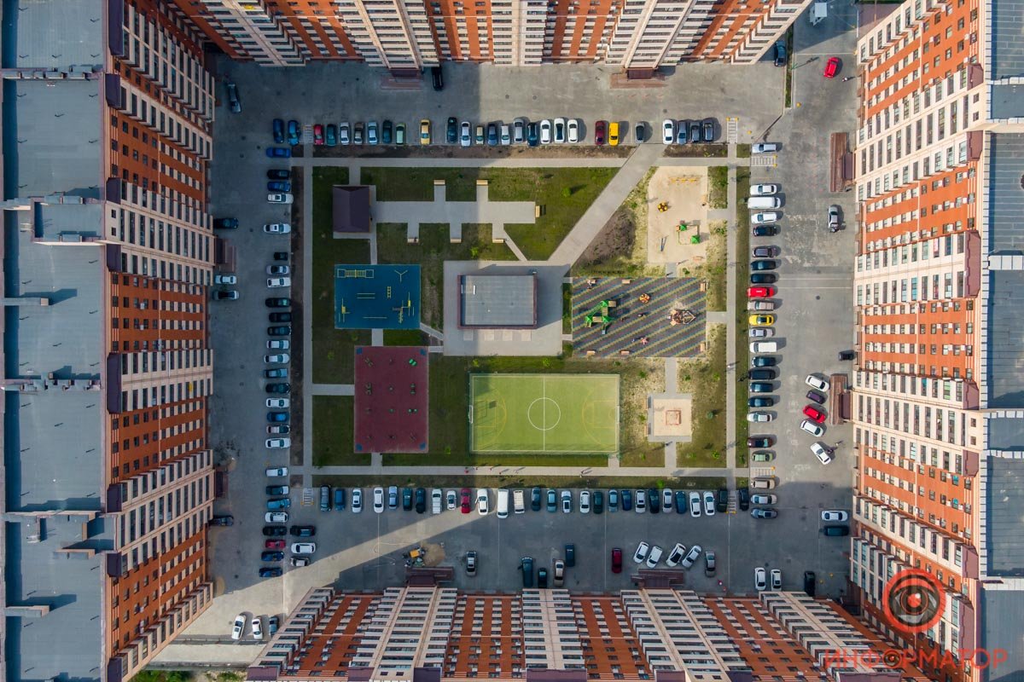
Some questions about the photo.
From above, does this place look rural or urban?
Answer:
urban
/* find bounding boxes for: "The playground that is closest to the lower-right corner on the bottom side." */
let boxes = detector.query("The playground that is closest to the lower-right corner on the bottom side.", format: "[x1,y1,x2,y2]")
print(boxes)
[648,393,692,442]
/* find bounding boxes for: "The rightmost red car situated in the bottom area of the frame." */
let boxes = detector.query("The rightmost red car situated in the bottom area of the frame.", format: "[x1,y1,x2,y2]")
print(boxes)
[801,405,827,422]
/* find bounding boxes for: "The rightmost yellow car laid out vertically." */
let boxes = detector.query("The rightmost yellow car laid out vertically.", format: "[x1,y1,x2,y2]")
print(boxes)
[608,122,620,147]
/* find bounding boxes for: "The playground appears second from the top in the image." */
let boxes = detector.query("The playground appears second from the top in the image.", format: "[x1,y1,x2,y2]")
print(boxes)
[573,277,707,357]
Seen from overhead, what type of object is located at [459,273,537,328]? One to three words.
building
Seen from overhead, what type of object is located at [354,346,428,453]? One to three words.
sports court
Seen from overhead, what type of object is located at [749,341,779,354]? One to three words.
vehicle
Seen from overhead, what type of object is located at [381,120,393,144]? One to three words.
vehicle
